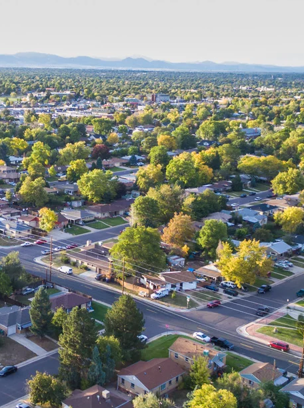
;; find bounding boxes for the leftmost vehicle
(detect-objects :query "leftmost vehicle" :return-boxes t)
[0,366,19,379]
